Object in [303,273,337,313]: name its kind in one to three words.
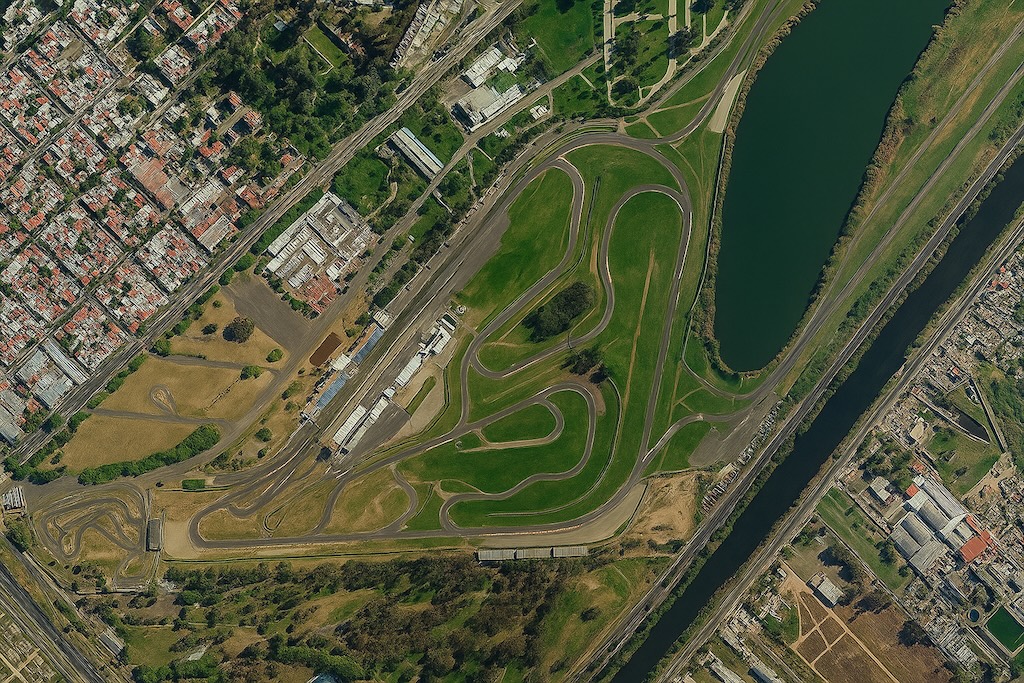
building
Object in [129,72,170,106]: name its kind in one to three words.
building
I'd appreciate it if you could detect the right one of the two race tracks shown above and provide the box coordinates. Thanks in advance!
[164,0,1024,557]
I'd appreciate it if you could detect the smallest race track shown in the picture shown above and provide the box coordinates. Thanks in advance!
[31,482,147,585]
